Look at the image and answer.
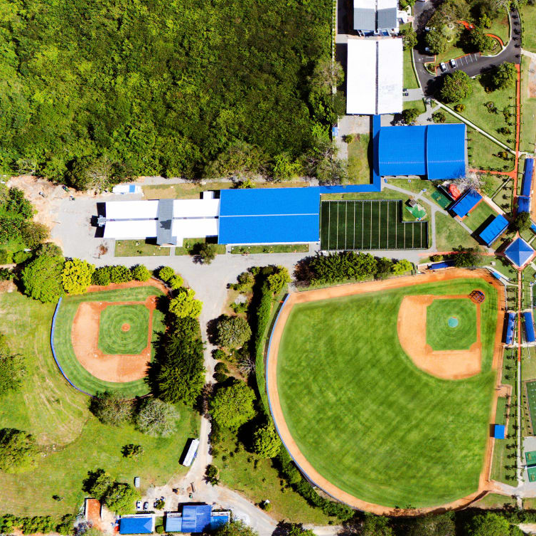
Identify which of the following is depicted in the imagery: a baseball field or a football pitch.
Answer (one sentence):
This aerial view contains a baseball field.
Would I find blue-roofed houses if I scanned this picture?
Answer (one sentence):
Yes, a blue-roofed house appears in the view.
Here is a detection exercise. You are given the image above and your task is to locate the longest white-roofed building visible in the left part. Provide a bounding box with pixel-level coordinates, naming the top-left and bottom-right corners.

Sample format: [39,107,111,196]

[104,199,219,246]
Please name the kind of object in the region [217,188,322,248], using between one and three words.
building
